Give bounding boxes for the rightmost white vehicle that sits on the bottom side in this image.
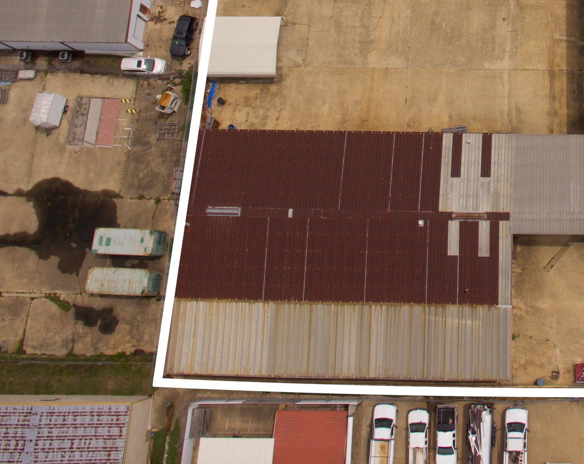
[502,405,529,464]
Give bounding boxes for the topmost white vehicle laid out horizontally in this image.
[118,55,170,78]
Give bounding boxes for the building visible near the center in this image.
[164,127,512,380]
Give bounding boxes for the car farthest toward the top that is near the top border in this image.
[169,13,200,60]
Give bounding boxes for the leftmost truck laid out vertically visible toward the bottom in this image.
[370,402,397,464]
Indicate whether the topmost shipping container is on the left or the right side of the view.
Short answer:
left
